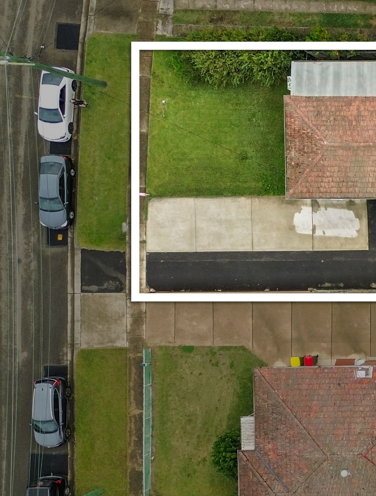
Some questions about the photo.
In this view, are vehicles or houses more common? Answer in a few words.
vehicles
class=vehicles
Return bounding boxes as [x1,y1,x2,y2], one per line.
[34,153,79,231]
[34,65,80,143]
[25,476,72,496]
[29,376,73,447]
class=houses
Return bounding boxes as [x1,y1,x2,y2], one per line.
[284,94,376,201]
[235,365,376,496]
